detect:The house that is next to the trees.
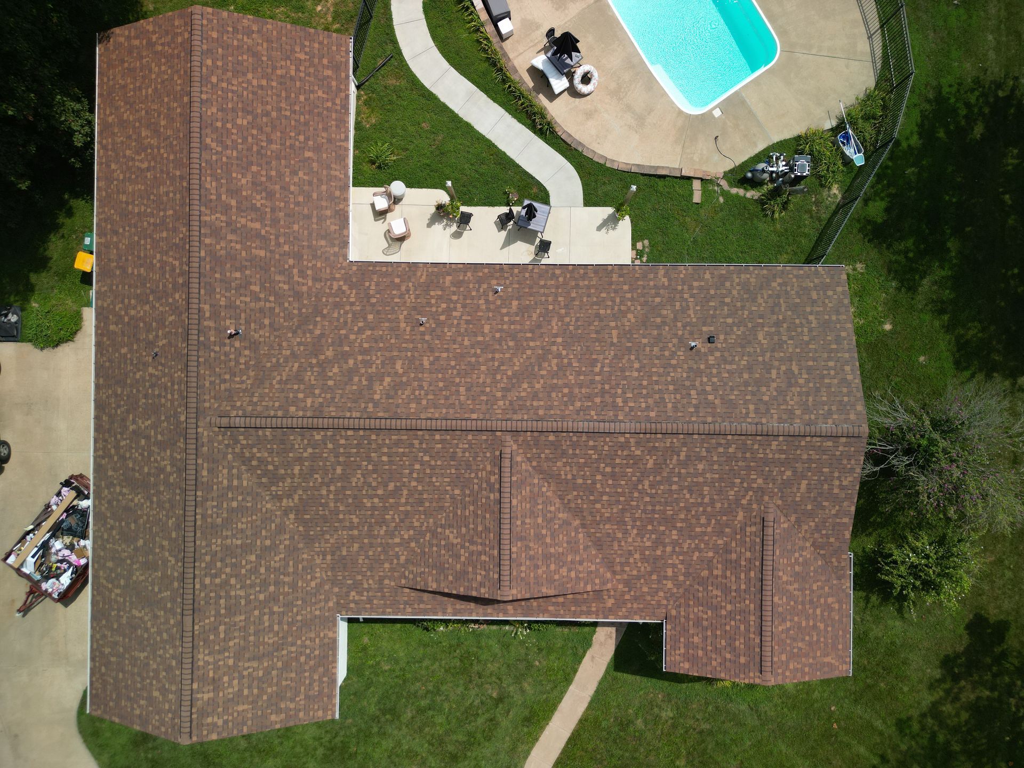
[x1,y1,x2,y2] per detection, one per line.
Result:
[88,6,869,744]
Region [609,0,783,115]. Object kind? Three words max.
swimming pool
